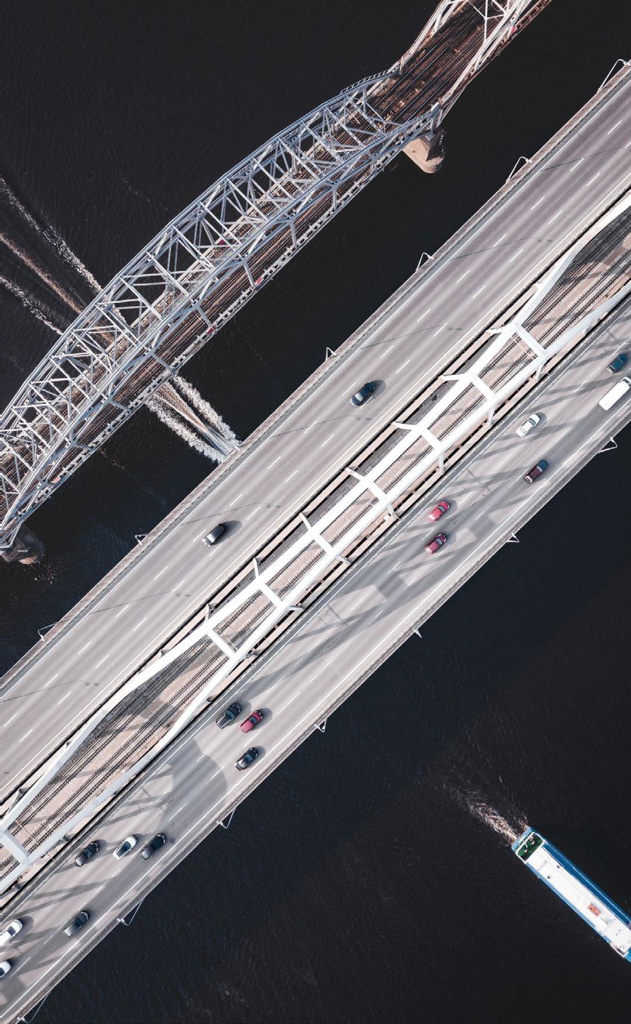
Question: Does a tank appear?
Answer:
No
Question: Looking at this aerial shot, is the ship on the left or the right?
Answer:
right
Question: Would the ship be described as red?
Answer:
No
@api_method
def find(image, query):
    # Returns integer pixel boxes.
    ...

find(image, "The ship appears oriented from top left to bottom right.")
[511,825,631,956]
